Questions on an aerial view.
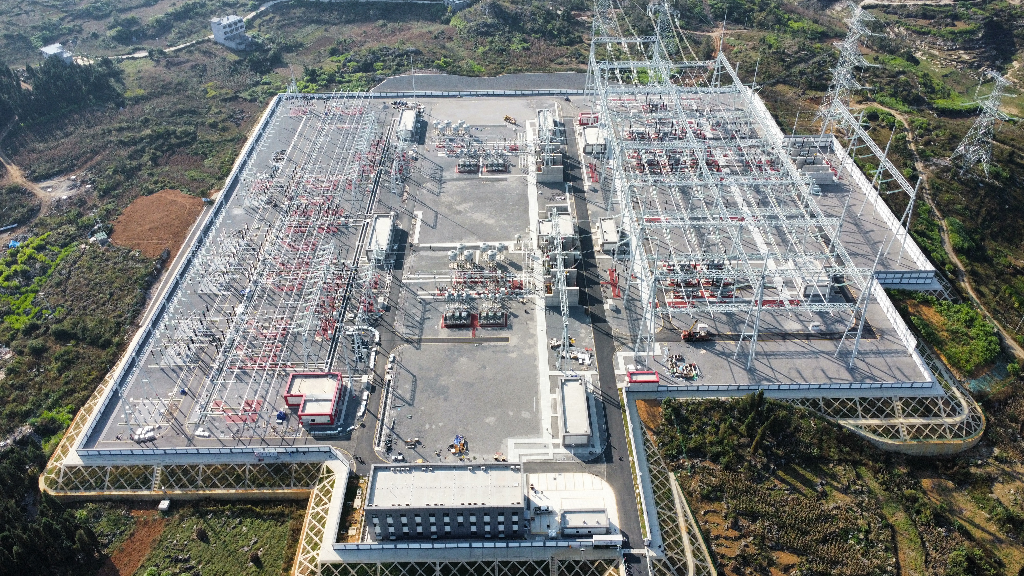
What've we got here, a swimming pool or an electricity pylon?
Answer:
electricity pylon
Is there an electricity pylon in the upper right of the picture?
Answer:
Yes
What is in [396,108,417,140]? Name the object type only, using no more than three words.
house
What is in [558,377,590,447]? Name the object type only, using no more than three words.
building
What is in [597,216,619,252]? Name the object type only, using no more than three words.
house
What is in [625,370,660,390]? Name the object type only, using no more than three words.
building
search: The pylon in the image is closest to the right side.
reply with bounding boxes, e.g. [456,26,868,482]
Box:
[927,69,1008,183]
